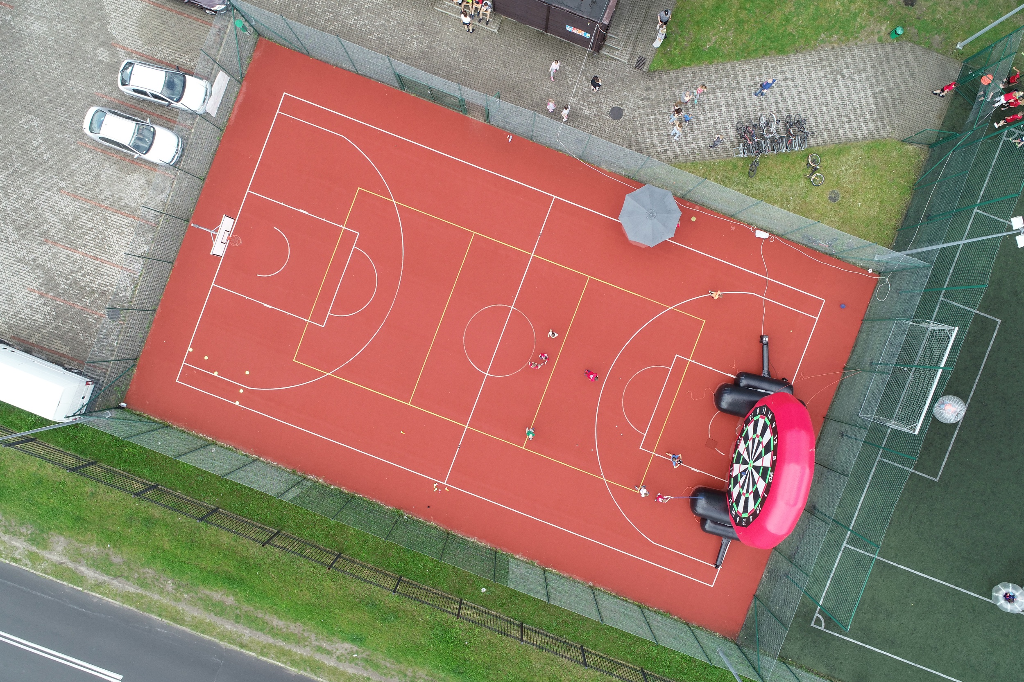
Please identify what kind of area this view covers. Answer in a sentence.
The area seen from above is a sports ground.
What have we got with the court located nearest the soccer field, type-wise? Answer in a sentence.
The court located nearest the soccer field appears to be a basketball court.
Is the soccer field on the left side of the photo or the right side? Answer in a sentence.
The soccer field is on the right side of the image.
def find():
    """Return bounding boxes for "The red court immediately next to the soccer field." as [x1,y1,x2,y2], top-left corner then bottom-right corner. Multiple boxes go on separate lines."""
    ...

[122,36,880,640]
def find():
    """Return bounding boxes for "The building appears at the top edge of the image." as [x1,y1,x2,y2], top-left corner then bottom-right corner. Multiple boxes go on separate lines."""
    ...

[493,0,620,54]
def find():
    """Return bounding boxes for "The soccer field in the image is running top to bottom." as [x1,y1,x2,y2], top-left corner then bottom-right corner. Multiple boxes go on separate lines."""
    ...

[735,0,1024,682]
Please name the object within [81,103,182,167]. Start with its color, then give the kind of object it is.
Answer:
white car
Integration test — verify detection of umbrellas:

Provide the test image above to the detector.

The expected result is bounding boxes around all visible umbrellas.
[618,184,682,248]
